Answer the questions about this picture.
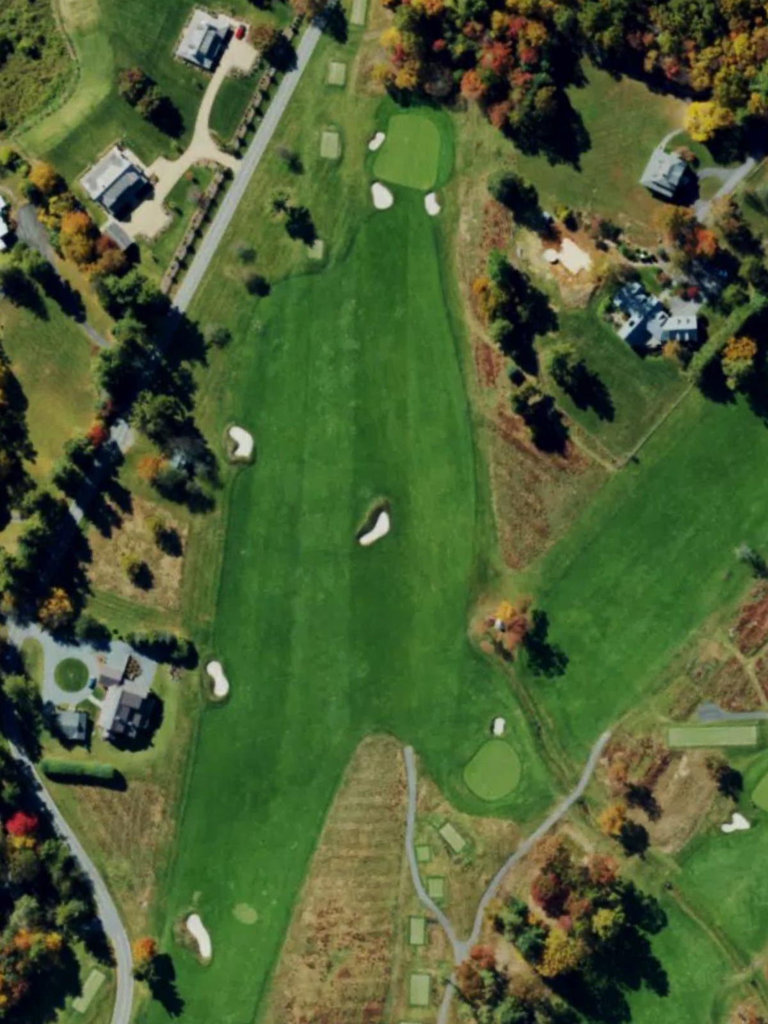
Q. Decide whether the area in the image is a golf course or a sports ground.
golf course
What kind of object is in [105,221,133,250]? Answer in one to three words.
building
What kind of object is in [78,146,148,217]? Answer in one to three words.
house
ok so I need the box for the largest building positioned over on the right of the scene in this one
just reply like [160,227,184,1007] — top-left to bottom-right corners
[612,283,698,348]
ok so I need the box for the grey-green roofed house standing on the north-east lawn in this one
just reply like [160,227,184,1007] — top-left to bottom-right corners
[642,148,684,198]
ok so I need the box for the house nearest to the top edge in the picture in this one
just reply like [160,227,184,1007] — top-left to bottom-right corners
[177,11,230,70]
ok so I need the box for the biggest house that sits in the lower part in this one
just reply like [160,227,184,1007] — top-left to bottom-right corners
[98,657,142,736]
